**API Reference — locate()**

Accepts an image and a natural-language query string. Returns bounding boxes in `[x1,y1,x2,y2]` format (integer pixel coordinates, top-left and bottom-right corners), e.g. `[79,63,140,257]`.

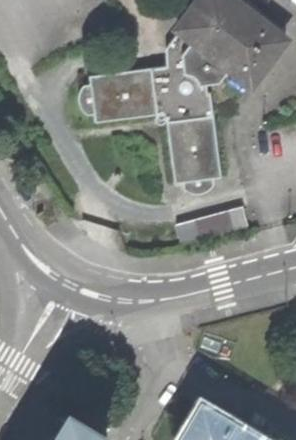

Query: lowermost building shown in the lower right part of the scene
[174,398,274,440]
